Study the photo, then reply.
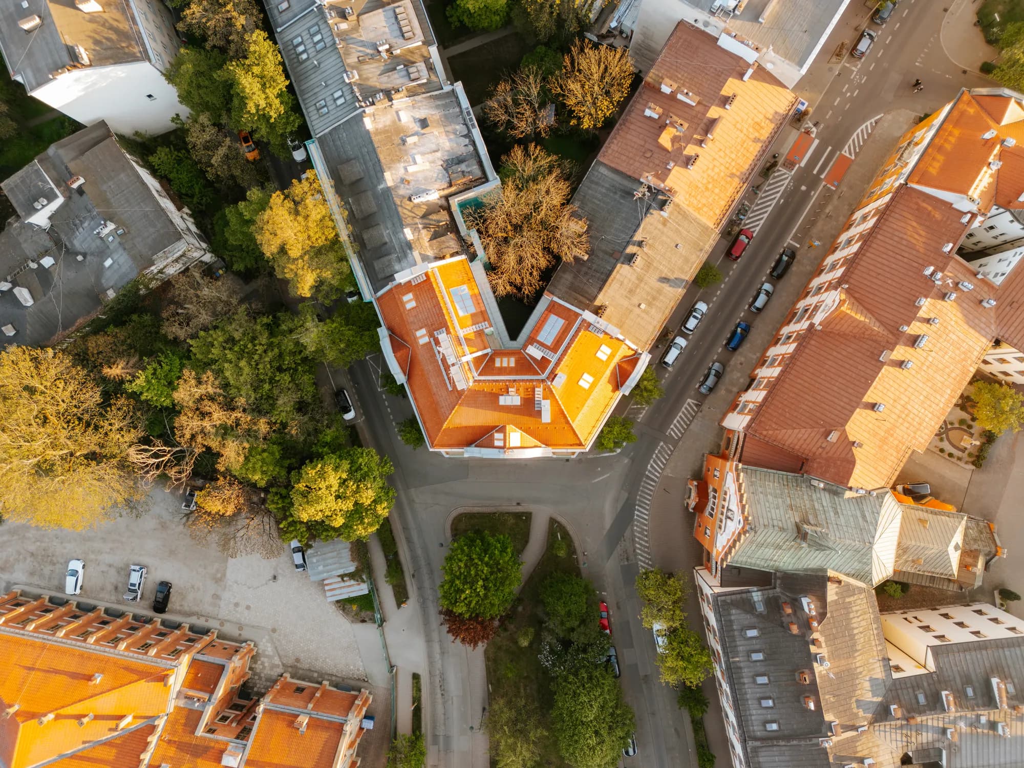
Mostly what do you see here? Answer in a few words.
buildings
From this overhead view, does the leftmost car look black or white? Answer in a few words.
white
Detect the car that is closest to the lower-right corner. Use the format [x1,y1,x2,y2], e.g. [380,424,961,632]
[893,481,936,498]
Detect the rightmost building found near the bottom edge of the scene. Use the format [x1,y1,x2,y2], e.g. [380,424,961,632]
[693,568,1024,768]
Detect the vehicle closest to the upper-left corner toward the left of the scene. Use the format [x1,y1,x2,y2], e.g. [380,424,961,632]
[237,129,263,165]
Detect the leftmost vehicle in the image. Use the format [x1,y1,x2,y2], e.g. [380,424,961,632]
[66,559,87,594]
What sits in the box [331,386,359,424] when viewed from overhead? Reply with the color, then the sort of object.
black car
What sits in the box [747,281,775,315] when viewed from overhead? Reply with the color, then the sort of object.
gray car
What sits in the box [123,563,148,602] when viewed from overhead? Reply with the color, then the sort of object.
gray car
